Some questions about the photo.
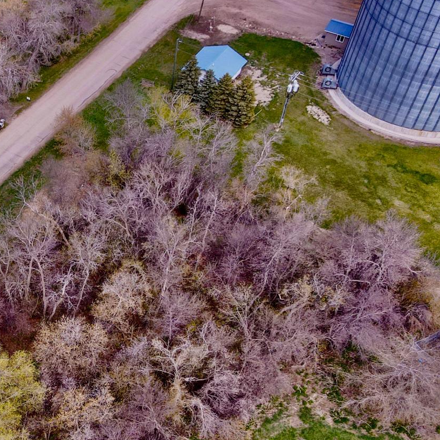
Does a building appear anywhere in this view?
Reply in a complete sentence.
Yes, a building is visible in the scene.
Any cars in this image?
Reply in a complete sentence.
No, the frame has no car in it.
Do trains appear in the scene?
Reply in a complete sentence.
No, no train is visible in the view.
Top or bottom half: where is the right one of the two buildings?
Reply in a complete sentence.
It is in the top half that the right one of the two buildings appears.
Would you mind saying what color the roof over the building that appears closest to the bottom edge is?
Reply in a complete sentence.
The color of the roof on the building that appears closest to the bottom edge is blue.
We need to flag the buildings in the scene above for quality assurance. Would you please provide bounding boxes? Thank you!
[176,42,247,82]
[324,20,357,52]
